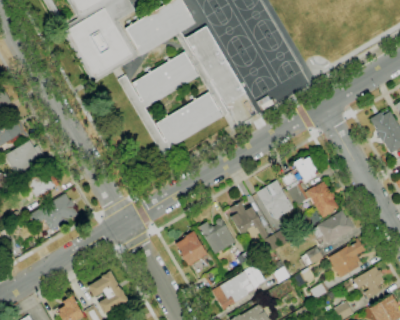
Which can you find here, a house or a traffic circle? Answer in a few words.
house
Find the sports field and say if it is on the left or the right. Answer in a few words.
right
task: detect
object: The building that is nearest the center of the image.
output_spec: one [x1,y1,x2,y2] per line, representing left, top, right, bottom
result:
[156,92,222,146]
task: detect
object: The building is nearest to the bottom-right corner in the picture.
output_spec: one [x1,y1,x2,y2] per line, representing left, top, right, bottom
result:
[370,296,400,320]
